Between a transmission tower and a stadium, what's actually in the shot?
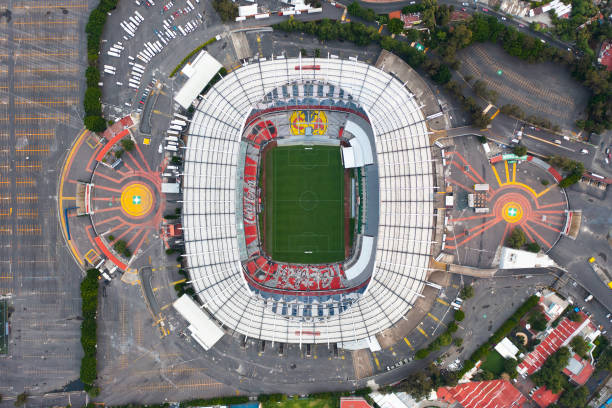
stadium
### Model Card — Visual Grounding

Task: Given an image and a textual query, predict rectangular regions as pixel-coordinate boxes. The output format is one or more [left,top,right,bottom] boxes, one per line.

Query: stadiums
[179,51,437,349]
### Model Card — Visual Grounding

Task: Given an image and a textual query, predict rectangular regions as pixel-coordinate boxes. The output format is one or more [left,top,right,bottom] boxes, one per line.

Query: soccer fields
[273,146,344,263]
